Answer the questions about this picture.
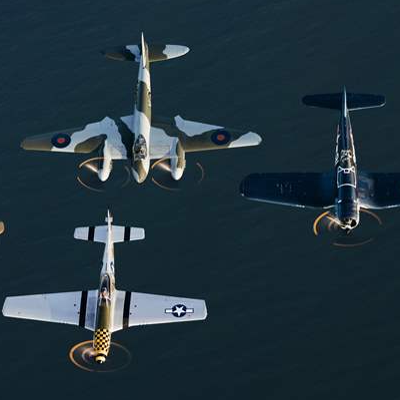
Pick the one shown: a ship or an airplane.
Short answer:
airplane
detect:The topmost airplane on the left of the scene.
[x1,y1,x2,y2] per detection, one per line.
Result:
[20,30,261,193]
